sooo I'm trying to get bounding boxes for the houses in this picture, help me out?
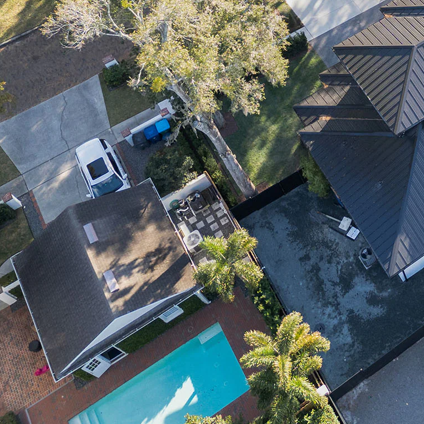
[10,177,228,386]
[293,0,424,282]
